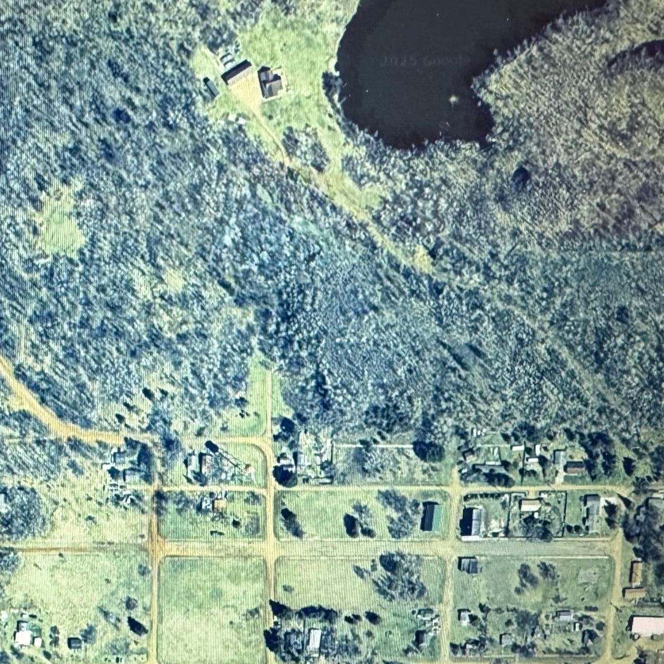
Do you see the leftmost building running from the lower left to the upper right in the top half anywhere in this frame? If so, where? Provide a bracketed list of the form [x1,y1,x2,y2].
[223,59,254,85]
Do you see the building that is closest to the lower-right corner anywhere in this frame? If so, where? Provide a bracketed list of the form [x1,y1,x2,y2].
[632,618,664,637]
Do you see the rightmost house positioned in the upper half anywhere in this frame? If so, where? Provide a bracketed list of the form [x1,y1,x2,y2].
[261,72,284,98]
